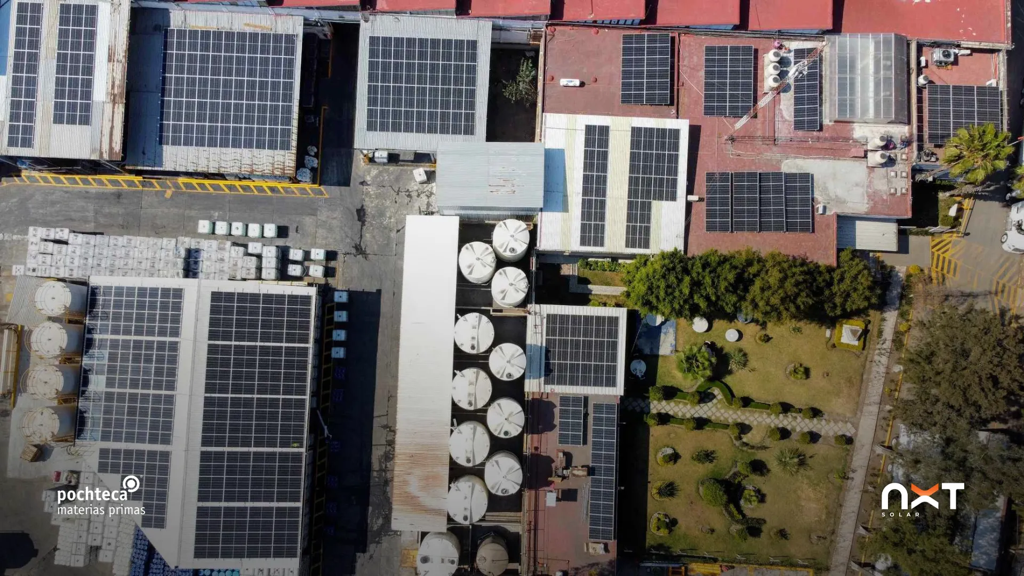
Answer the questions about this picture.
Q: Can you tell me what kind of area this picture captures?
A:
industrial area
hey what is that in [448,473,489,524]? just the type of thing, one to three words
storage tank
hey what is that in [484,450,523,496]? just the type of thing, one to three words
water tank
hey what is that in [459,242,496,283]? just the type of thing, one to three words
water tank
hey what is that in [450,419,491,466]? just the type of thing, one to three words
storage tank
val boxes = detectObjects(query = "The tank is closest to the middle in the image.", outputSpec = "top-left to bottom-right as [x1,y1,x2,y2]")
[492,267,529,307]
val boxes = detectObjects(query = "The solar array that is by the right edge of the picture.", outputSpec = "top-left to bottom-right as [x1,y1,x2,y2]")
[926,84,1000,145]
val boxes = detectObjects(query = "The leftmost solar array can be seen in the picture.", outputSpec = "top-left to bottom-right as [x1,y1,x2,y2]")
[8,2,43,148]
